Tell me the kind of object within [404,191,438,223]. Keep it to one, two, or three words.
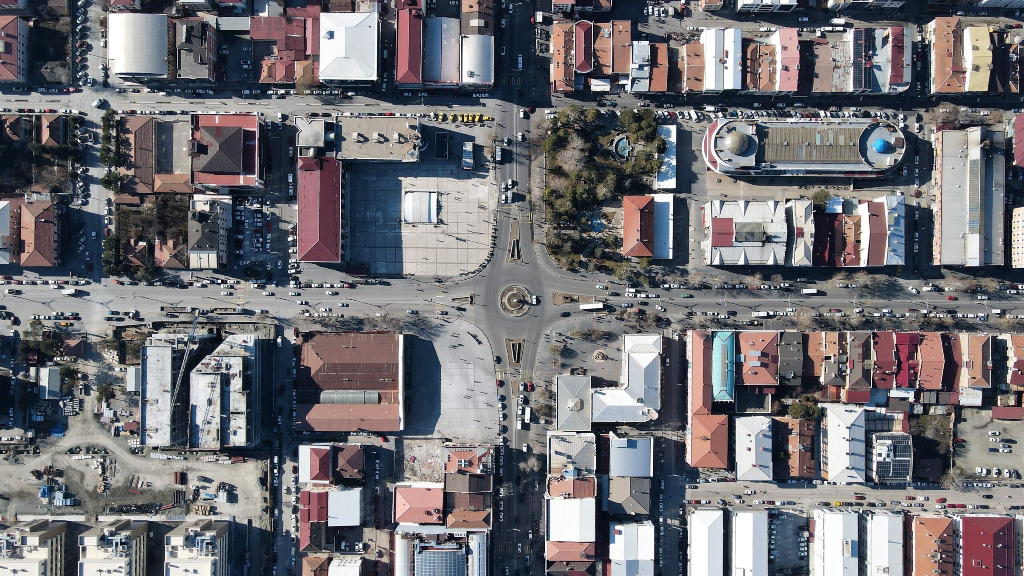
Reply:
tent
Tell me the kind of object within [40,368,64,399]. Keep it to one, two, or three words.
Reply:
shed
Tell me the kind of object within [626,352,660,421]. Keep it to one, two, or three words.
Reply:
building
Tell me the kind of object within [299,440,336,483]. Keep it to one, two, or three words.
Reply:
building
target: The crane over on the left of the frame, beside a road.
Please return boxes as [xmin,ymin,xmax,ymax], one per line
[153,307,215,470]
